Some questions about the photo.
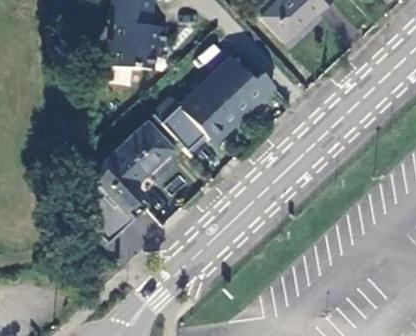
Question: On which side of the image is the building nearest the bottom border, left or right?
left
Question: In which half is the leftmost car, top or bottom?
bottom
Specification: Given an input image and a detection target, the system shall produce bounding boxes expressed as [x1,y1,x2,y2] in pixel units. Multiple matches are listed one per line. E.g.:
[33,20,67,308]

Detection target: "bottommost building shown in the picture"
[100,194,132,239]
